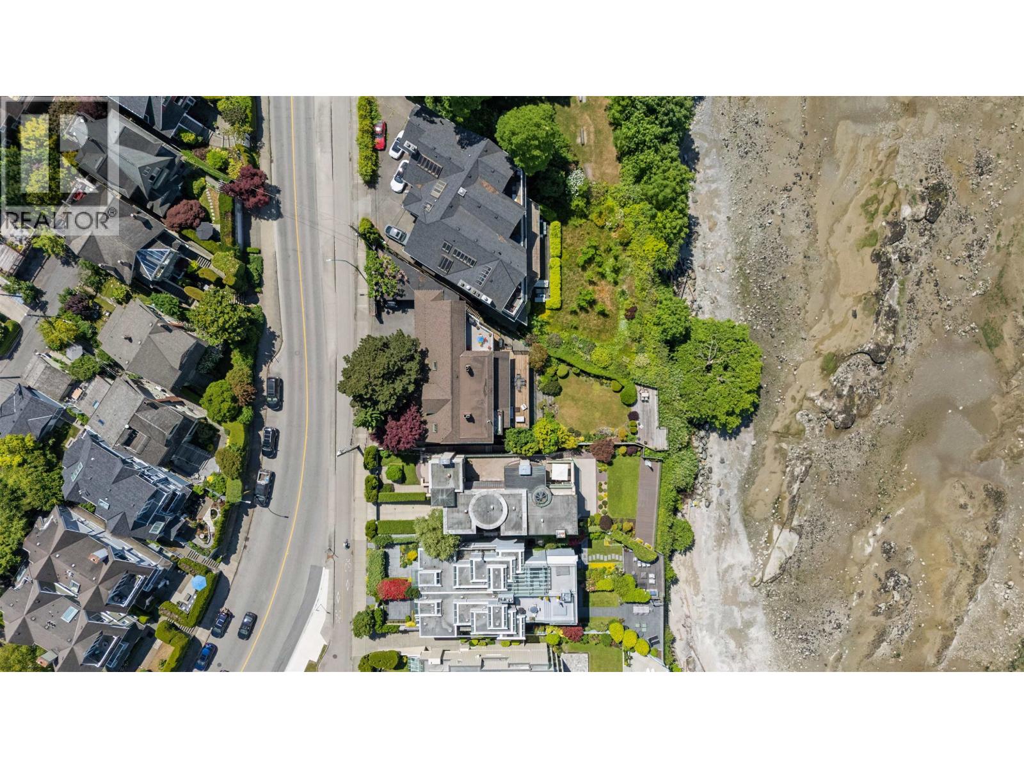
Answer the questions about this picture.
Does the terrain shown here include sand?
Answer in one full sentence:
Yes, there's sand in this view.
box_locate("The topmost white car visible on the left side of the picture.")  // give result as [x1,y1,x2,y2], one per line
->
[387,130,404,162]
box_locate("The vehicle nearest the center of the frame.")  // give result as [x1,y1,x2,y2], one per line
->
[377,296,408,311]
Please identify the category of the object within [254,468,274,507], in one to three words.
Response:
vehicle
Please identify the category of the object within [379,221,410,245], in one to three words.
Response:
car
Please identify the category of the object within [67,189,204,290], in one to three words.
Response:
house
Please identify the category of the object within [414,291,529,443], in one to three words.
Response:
house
